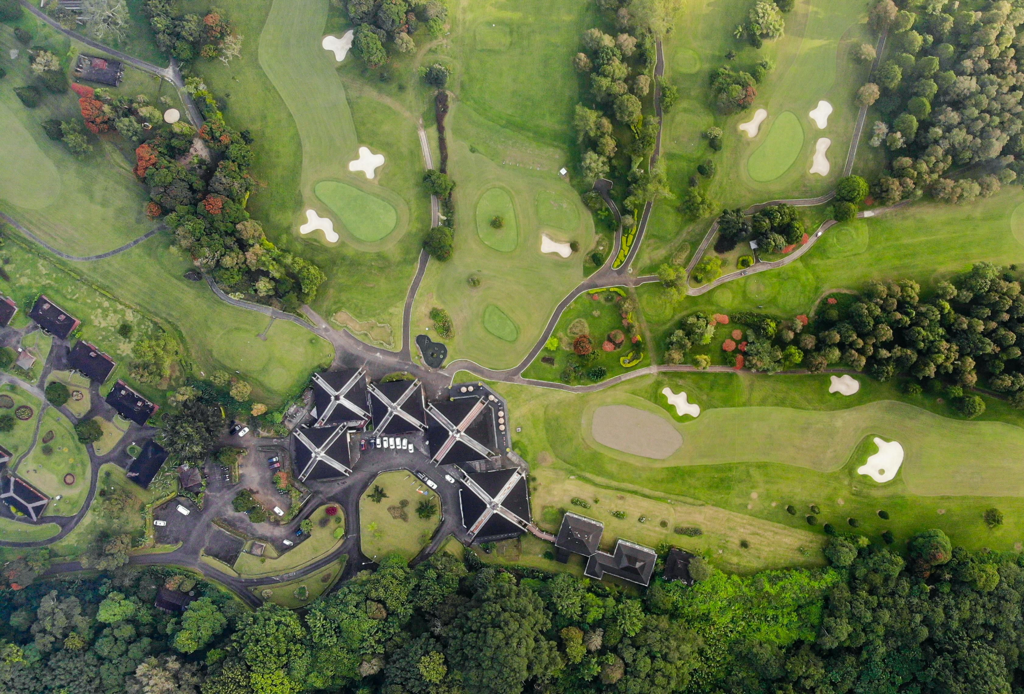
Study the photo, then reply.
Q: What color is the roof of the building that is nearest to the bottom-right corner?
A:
black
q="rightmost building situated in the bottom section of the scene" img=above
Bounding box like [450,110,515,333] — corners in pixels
[663,548,696,585]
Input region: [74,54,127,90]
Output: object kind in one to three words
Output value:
building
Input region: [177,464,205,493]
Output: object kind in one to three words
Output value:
shed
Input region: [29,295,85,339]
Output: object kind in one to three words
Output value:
house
